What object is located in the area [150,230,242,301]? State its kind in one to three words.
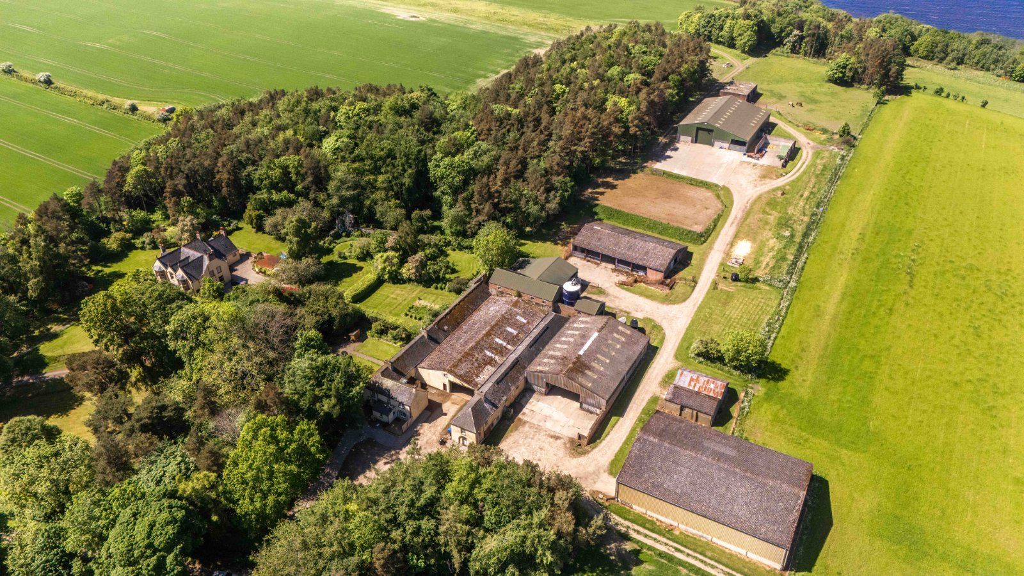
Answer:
house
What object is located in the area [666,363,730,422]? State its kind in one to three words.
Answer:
shed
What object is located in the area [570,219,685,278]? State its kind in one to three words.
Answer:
shed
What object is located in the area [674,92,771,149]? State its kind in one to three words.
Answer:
barn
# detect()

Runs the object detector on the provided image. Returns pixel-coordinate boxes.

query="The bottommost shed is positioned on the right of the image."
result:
[621,409,819,564]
